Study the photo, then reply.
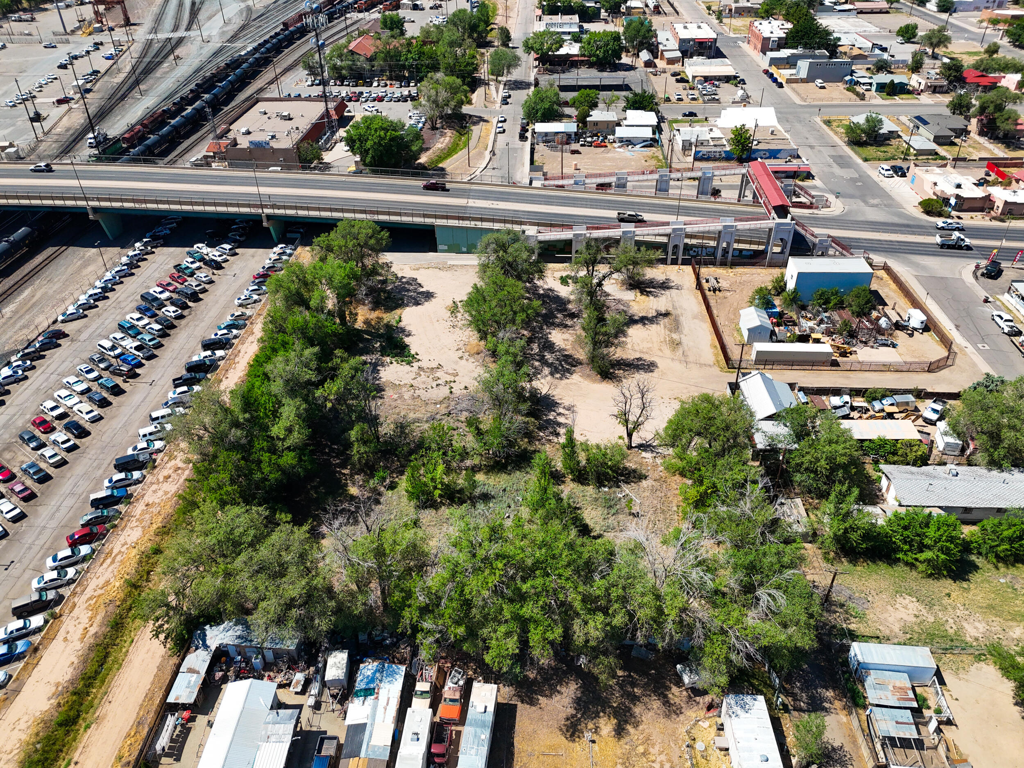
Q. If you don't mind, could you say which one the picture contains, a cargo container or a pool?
cargo container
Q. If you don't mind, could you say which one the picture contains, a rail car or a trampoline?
rail car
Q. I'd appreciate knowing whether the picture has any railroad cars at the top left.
Yes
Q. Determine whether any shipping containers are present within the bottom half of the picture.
Yes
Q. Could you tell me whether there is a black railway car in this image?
Yes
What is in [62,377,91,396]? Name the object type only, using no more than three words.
car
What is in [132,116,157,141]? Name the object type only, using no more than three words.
rail car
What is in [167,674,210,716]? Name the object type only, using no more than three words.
shed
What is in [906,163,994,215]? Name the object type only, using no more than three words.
building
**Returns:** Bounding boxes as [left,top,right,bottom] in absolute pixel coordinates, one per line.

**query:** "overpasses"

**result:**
[0,162,820,257]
